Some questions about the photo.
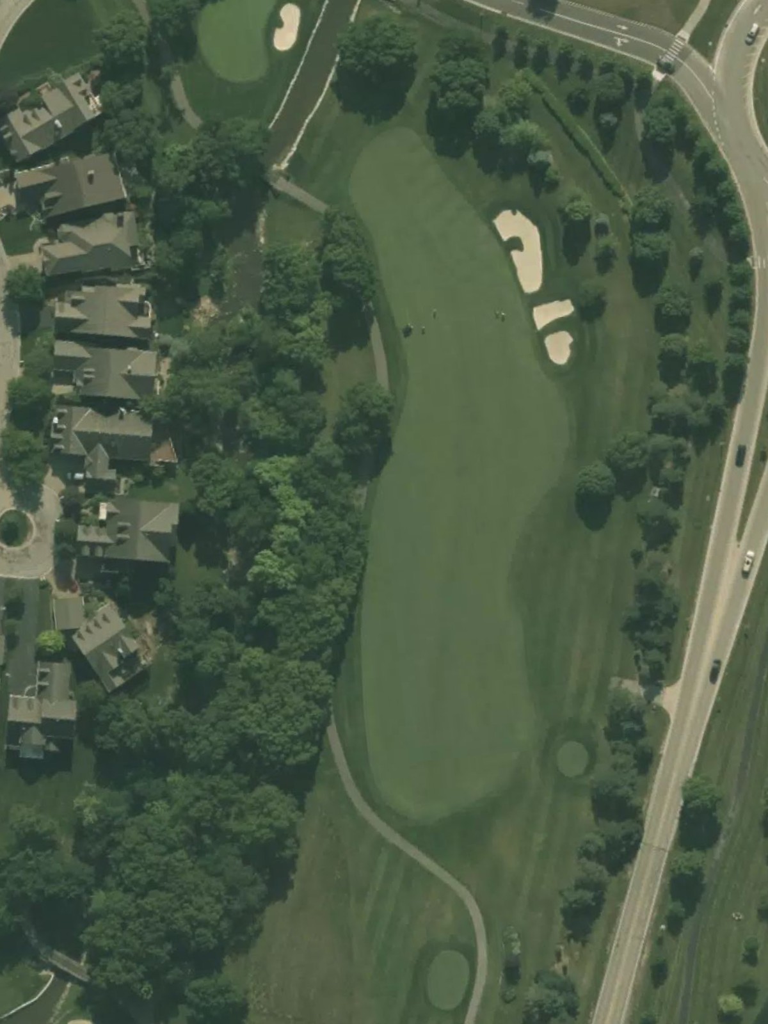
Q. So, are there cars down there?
Yes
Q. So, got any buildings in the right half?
No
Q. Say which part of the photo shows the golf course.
center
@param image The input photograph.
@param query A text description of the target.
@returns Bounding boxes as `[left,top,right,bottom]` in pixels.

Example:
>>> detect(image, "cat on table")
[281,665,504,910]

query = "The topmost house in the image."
[0,73,101,163]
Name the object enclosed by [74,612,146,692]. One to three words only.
house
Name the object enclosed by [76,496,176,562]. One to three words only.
house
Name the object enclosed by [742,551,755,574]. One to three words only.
vehicle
